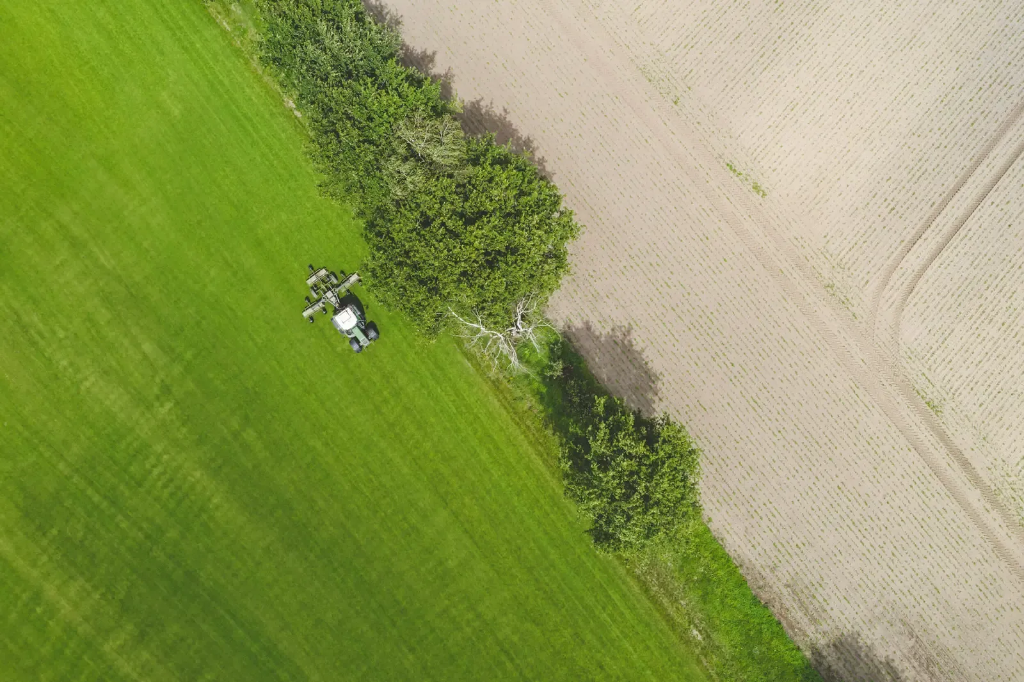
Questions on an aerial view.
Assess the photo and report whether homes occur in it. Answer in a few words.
No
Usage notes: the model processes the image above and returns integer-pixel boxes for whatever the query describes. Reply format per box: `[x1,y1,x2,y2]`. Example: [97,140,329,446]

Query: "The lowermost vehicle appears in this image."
[330,300,380,355]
